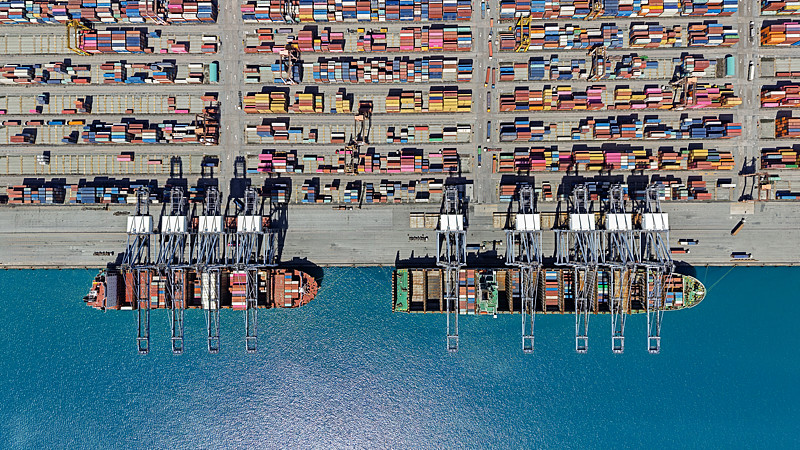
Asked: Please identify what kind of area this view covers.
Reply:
port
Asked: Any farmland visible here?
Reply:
No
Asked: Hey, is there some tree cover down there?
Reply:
No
